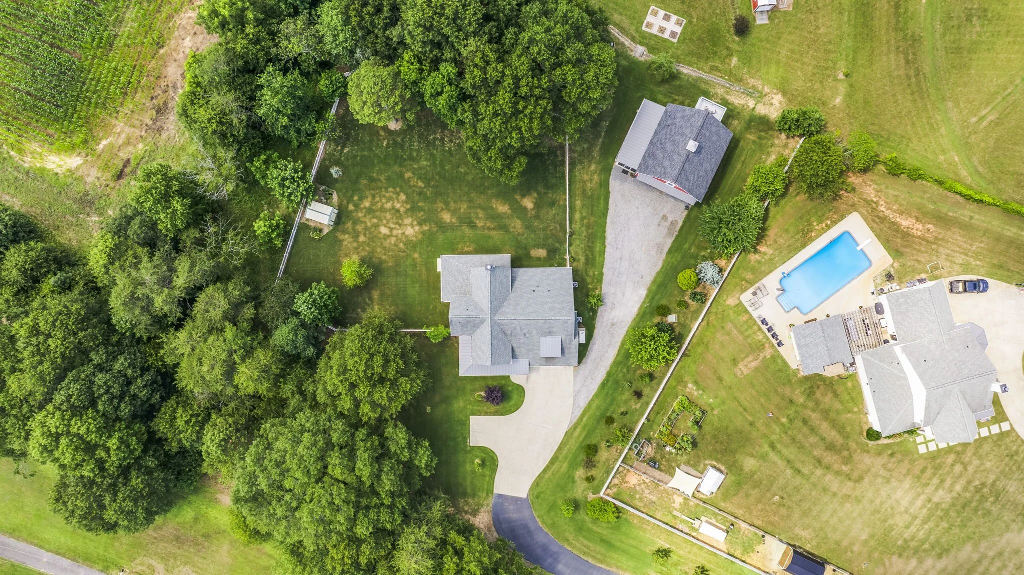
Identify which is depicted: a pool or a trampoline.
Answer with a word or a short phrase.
pool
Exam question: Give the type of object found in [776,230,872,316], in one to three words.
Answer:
swimming pool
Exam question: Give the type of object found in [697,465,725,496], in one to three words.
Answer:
shed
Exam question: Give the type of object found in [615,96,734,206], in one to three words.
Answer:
barn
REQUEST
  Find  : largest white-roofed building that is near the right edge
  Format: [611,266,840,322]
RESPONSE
[854,278,1011,444]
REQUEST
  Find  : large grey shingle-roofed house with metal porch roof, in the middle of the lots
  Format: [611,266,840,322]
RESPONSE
[438,254,579,376]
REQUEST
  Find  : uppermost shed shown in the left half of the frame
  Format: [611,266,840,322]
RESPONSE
[305,201,338,225]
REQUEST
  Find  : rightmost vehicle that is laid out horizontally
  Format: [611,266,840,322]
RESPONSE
[946,278,988,295]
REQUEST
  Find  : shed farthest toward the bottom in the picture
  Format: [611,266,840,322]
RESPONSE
[779,546,829,575]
